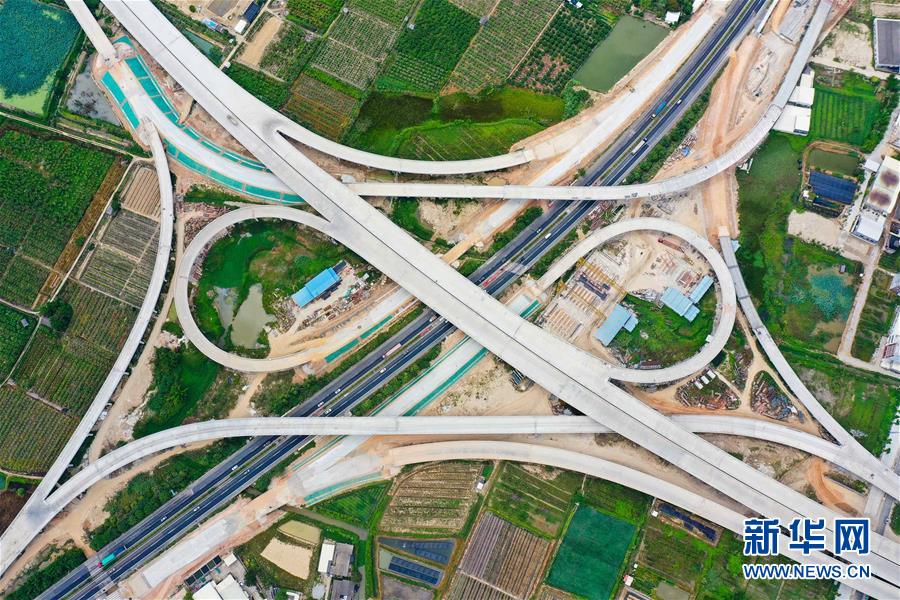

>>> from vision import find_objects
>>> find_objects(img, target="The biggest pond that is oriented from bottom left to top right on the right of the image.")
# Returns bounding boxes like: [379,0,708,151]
[573,16,671,92]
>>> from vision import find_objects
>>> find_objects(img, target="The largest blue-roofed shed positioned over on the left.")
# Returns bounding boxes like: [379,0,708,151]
[292,266,340,308]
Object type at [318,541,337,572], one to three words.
house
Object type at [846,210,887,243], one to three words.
building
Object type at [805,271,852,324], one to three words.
pond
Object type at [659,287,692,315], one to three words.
shed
